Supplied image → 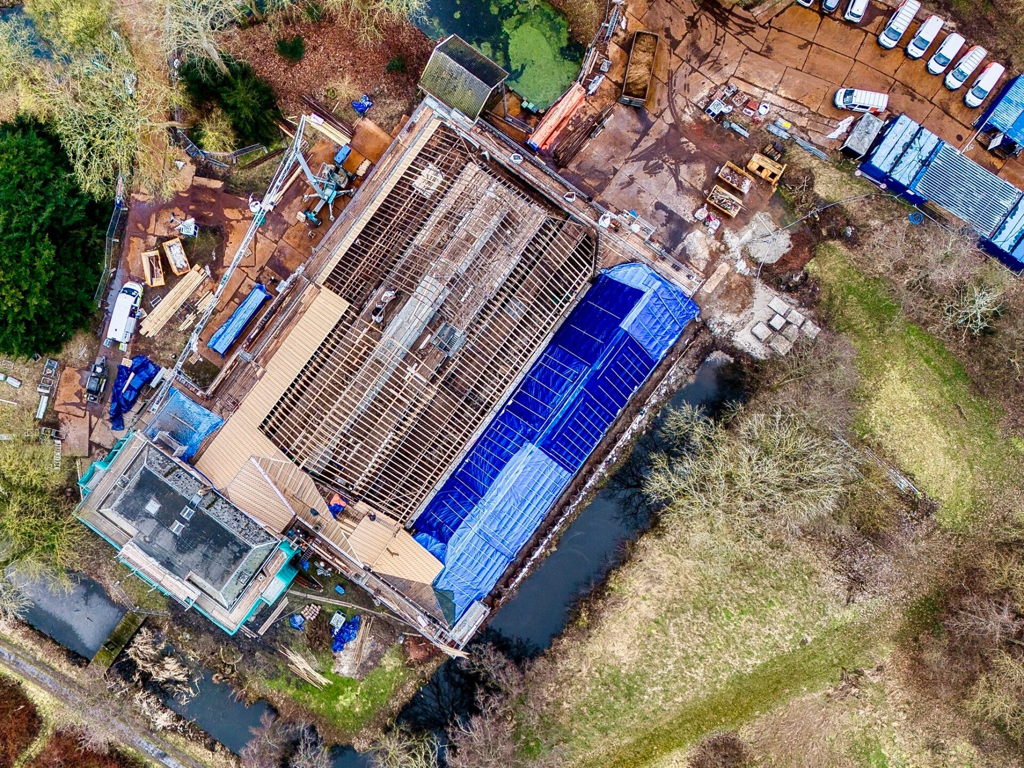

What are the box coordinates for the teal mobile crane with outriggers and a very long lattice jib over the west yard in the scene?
[151,115,358,412]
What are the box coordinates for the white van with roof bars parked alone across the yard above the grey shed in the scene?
[826,85,891,119]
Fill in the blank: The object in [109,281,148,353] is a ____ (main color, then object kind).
white van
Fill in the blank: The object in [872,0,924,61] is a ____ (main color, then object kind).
white van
